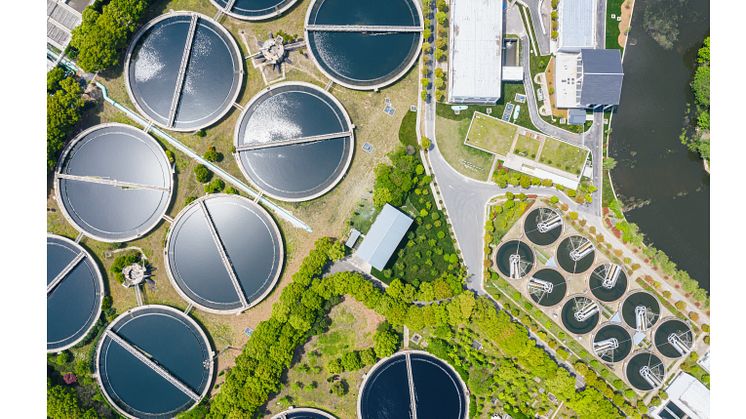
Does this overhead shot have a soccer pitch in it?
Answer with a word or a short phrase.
No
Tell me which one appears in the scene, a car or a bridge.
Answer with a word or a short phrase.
bridge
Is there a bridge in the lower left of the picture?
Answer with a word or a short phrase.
Yes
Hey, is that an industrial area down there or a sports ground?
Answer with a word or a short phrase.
industrial area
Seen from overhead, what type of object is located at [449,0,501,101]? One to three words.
building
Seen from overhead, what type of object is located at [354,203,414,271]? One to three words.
shed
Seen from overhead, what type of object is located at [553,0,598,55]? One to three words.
building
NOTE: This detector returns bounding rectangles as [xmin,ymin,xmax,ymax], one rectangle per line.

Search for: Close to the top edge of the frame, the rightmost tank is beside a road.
[303,0,425,91]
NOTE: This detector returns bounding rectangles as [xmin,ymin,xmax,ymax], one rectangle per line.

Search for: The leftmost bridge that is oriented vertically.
[166,11,200,130]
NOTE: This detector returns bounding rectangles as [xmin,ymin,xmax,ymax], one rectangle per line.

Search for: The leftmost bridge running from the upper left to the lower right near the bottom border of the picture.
[105,325,205,404]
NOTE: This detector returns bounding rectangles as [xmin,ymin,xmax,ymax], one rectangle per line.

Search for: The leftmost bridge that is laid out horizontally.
[52,173,175,192]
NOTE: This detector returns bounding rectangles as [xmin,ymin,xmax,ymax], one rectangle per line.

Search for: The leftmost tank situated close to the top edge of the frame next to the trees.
[124,11,245,132]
